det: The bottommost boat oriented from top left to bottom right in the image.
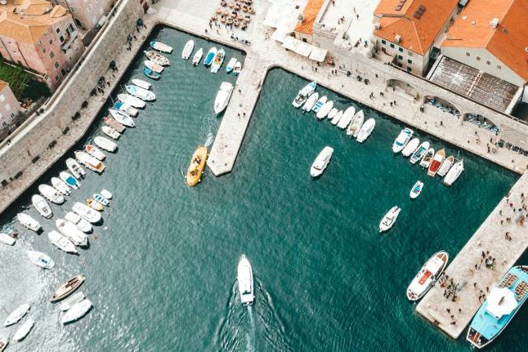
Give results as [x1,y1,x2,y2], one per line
[25,248,54,268]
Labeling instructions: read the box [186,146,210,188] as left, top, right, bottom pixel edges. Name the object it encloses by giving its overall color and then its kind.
yellow boat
